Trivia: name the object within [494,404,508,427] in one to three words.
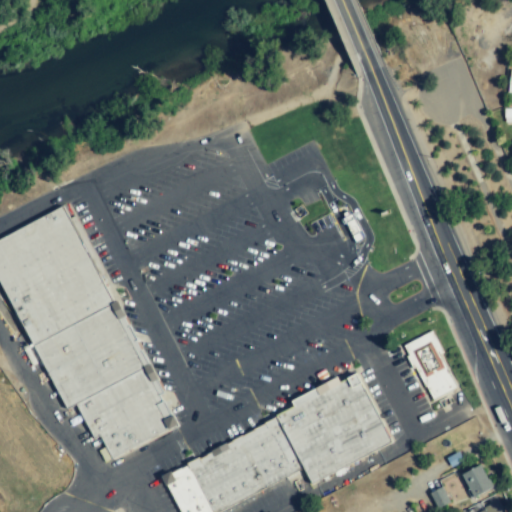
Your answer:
vehicle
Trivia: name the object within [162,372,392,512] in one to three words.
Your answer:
building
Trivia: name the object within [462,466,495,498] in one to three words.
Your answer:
house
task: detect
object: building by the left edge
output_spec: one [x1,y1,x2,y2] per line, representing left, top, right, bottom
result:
[0,207,179,462]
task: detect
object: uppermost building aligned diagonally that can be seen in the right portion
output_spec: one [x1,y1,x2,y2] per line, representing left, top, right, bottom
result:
[344,212,367,242]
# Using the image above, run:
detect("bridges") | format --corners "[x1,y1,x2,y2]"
[326,0,391,84]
